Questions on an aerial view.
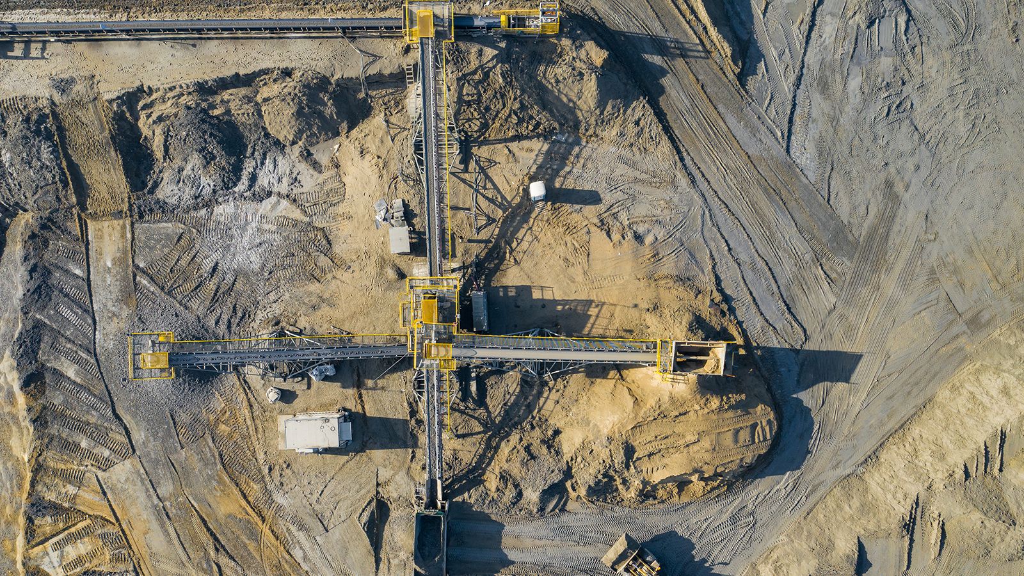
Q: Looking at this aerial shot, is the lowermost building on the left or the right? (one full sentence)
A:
The lowermost building is on the left side of the image.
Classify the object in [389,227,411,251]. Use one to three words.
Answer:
building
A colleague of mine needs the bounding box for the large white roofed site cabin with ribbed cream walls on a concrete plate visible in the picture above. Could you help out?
[285,412,356,453]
